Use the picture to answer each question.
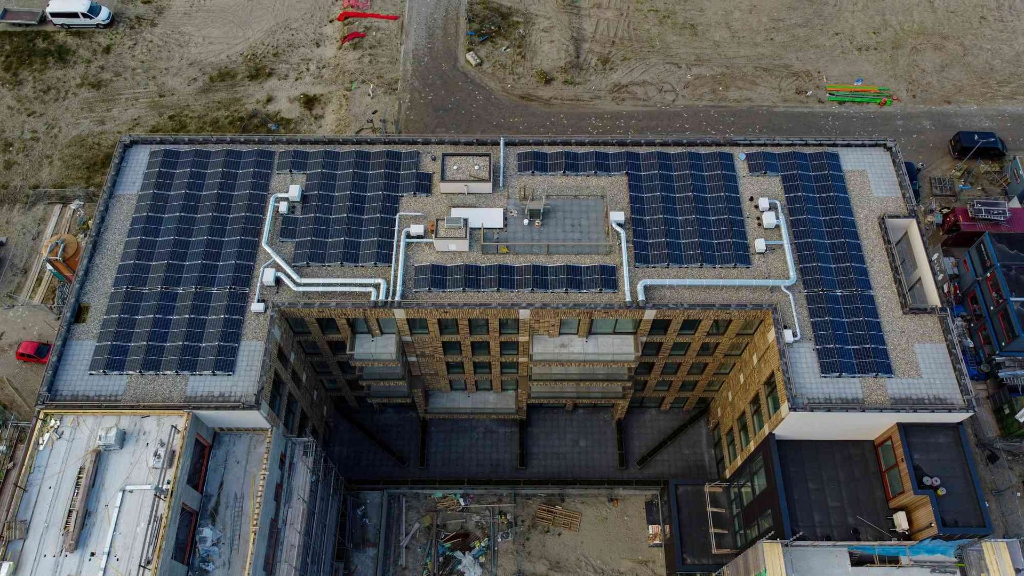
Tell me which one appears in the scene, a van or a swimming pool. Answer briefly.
van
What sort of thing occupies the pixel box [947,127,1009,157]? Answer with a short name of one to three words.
van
